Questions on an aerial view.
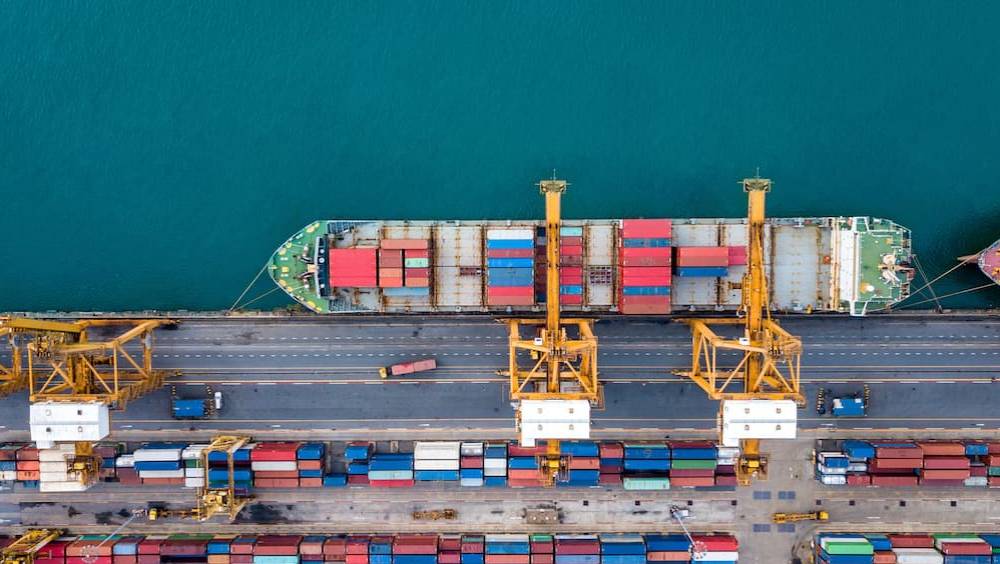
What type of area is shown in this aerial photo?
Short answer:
port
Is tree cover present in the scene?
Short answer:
No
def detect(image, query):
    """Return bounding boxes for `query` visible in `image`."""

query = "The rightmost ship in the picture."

[956,231,1000,289]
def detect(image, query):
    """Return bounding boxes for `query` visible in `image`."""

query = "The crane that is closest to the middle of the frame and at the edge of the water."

[490,180,617,487]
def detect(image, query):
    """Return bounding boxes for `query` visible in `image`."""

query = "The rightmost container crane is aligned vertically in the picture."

[670,168,814,487]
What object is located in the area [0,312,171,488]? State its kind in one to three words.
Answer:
container crane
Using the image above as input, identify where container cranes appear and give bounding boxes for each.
[490,180,617,487]
[0,312,171,488]
[0,529,60,564]
[0,323,39,399]
[200,436,252,525]
[670,168,814,487]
